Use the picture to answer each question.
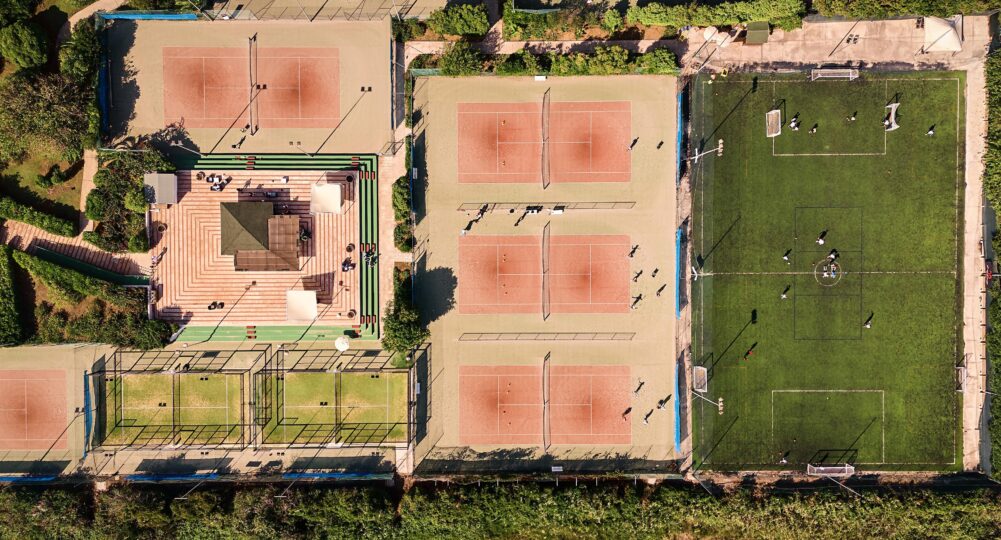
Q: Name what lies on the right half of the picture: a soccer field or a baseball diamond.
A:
soccer field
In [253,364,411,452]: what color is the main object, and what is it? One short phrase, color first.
yellow sports court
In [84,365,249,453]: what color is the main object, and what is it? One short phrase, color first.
yellow sports court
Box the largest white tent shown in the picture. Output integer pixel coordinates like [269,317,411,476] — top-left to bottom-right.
[914,15,963,58]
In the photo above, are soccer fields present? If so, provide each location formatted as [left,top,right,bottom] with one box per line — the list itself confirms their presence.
[692,70,966,472]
